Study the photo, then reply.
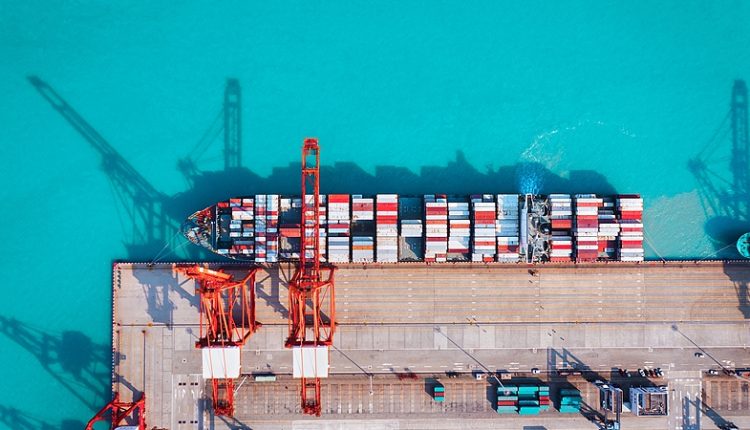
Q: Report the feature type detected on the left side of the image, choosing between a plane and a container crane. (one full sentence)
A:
Looking on the left side of the image, you will find a container crane.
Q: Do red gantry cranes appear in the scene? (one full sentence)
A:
Yes, I can see a red gantry crane in this picture.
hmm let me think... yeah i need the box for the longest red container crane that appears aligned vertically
[286,136,343,416]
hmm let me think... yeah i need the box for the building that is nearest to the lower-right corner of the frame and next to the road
[630,381,669,415]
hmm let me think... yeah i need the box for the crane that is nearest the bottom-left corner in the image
[78,391,168,430]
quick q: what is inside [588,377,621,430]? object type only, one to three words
container crane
